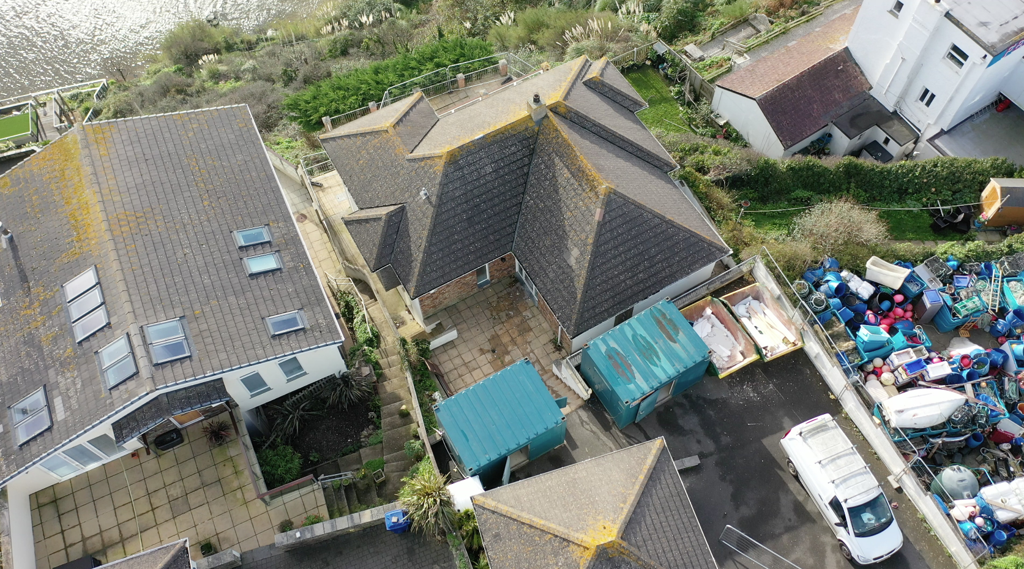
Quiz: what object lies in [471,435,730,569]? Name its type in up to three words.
building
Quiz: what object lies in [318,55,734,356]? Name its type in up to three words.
house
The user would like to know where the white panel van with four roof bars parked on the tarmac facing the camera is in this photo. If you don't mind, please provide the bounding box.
[782,417,908,569]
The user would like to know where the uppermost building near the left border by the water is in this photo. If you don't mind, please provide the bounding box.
[0,104,351,509]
